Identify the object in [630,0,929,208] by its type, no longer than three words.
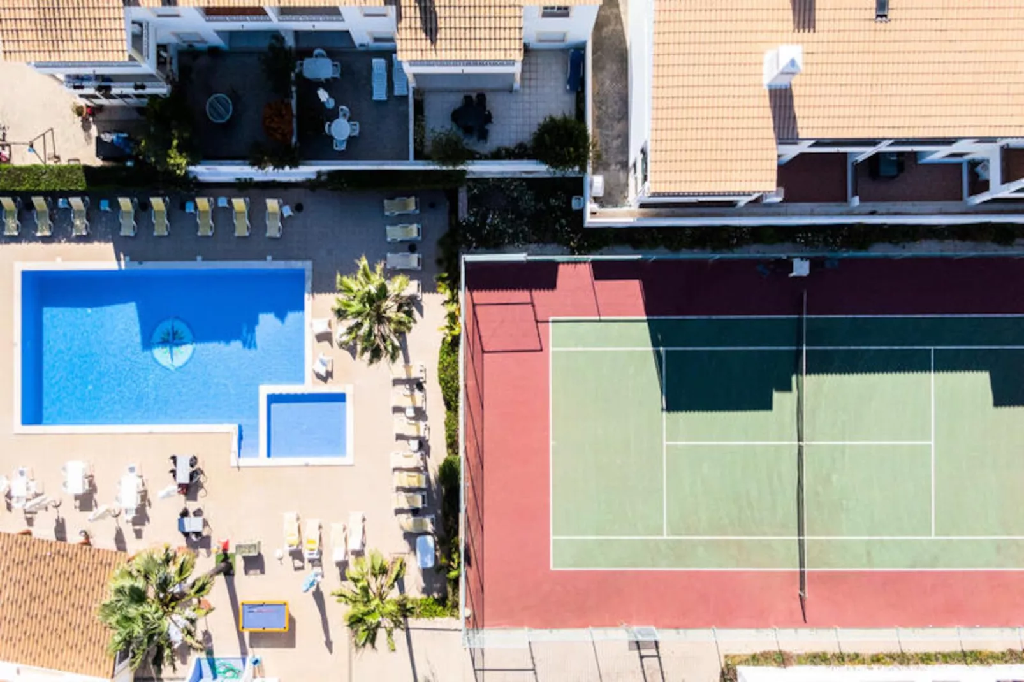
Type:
house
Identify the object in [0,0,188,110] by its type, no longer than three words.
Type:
house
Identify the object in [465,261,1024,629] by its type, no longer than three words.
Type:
tennis court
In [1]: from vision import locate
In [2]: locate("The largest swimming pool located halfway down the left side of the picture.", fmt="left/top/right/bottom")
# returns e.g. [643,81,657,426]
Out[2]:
[13,256,313,465]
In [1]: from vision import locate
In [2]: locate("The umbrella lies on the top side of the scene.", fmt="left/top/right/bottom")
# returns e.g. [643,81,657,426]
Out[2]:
[318,87,336,108]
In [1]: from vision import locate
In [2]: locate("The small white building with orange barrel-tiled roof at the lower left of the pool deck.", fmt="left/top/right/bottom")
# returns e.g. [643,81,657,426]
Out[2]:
[0,531,128,682]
